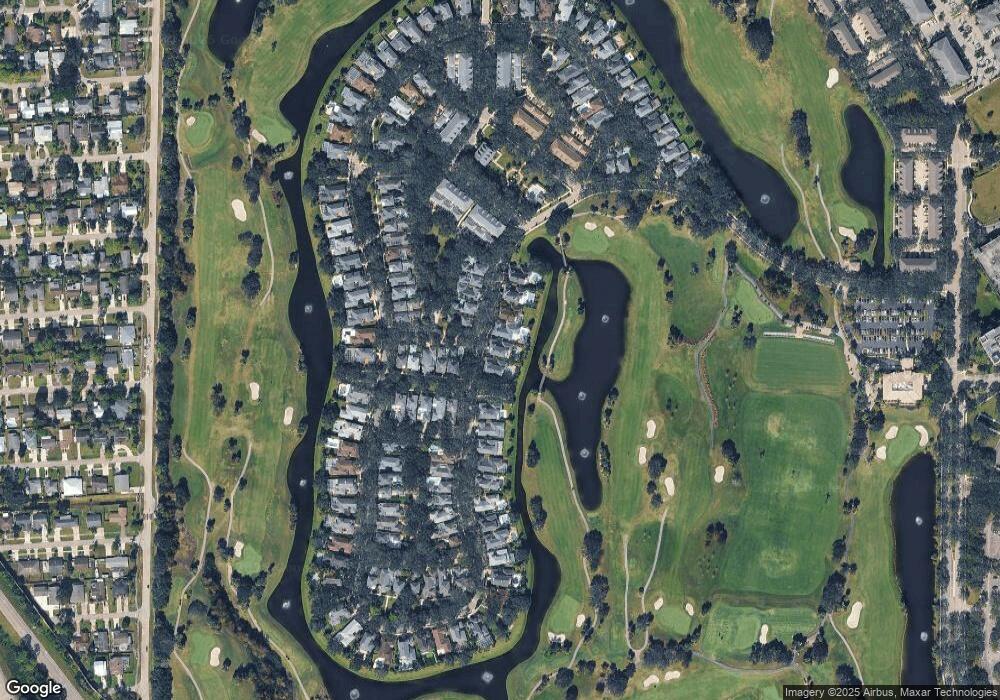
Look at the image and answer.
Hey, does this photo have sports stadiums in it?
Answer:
No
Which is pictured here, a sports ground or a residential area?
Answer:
residential area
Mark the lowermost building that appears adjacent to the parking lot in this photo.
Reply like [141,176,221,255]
[883,358,925,405]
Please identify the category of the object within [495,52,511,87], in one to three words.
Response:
building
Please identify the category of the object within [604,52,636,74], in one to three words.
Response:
house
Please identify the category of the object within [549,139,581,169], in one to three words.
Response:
building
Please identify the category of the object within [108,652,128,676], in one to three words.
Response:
house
